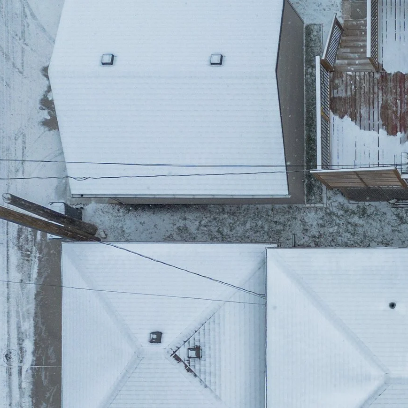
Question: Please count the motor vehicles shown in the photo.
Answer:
zero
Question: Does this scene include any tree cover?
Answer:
No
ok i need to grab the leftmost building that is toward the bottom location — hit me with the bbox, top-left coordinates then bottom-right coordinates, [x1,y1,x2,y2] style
[65,246,277,408]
